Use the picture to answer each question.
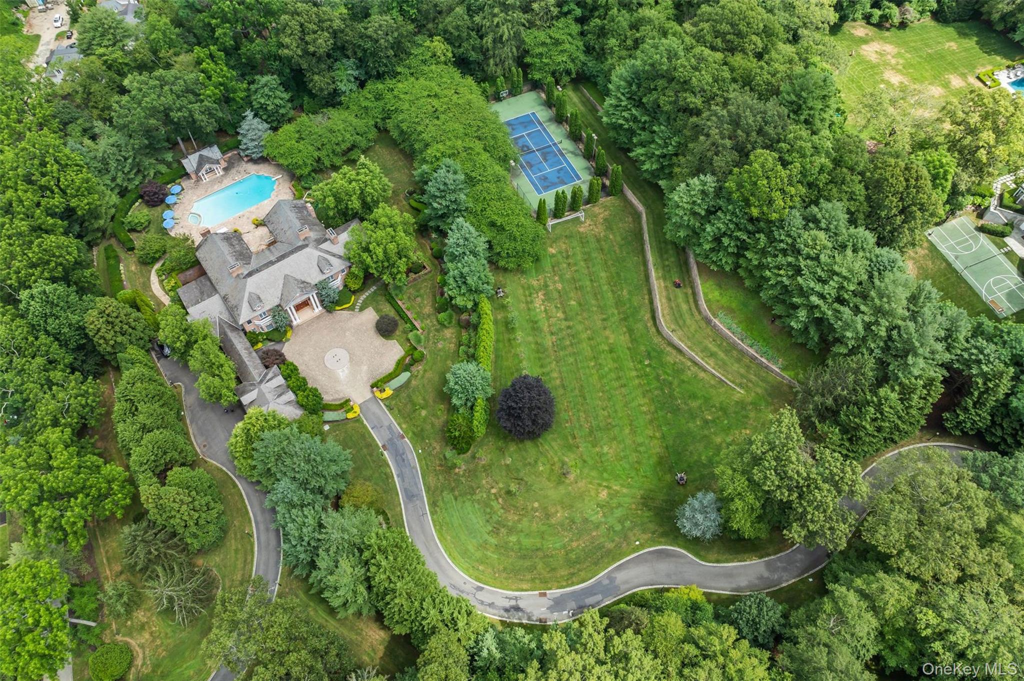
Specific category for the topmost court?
tennis court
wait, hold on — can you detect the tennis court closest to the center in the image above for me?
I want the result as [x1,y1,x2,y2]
[474,90,611,219]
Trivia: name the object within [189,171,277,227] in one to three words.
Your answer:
swimming pool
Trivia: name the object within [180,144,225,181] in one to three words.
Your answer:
building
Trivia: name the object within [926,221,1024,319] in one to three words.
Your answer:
sports court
